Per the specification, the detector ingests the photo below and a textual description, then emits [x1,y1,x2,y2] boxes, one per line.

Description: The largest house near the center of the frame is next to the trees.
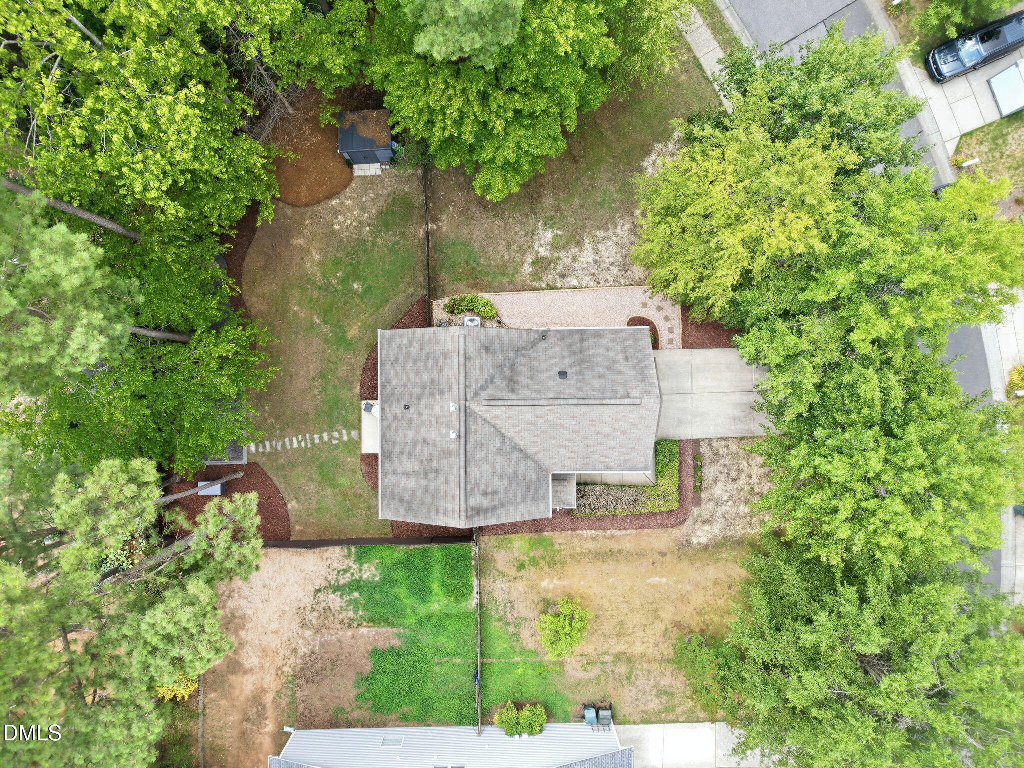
[379,325,662,528]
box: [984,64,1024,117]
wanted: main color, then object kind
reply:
white trailer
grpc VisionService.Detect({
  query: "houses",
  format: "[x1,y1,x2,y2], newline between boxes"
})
[379,325,662,528]
[267,723,632,768]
